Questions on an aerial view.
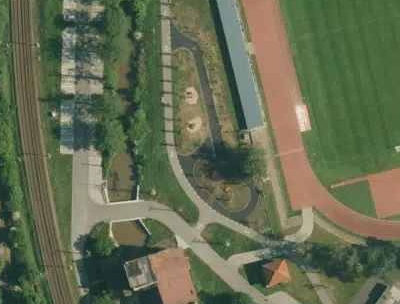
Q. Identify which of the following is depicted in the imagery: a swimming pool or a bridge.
bridge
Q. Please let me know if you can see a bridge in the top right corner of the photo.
No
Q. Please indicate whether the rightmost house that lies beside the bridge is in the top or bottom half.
bottom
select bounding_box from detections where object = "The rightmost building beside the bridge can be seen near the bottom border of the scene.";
[150,250,196,304]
